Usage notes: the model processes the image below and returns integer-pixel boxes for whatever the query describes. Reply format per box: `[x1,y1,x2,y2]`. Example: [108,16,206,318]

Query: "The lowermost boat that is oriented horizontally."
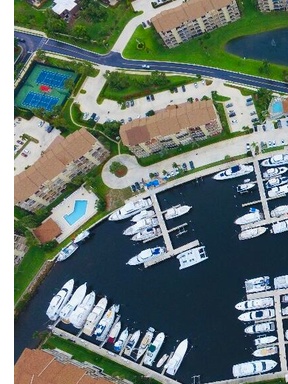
[231,359,276,376]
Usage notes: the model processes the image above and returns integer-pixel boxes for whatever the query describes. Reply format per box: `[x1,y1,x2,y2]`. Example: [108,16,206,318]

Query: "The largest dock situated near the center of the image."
[142,193,199,269]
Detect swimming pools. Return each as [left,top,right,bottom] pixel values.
[267,97,288,119]
[41,182,98,241]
